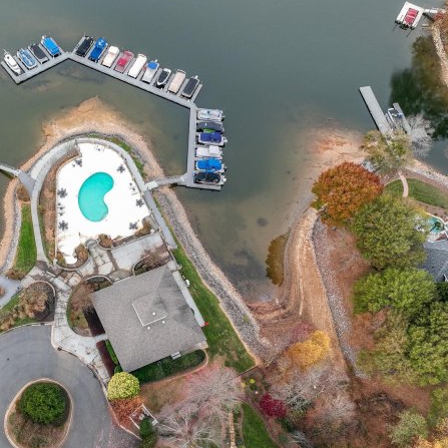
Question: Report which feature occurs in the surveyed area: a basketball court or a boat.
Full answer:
I can see a boat in this picture.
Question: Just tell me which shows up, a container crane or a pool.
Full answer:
Of the two, only a pool appears.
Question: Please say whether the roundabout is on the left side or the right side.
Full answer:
The roundabout is on the left side of the image.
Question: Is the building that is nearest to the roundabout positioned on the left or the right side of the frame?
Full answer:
The building that is nearest to the roundabout is on the left side of the image.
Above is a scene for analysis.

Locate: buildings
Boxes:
[91,265,207,372]
[423,229,448,282]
